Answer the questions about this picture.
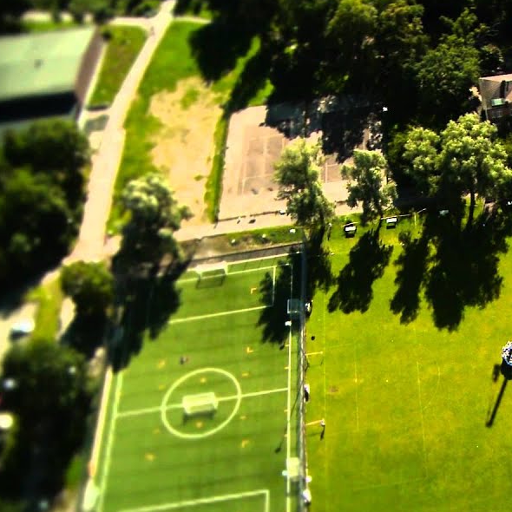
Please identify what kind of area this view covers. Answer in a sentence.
It's a sports ground.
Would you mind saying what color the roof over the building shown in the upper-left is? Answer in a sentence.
The roof over the building shown in the upper-left appears green.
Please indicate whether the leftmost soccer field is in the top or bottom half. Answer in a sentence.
The bottom half of the photo is where the leftmost soccer field is.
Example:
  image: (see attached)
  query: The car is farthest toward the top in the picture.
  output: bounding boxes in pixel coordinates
[10,319,36,334]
